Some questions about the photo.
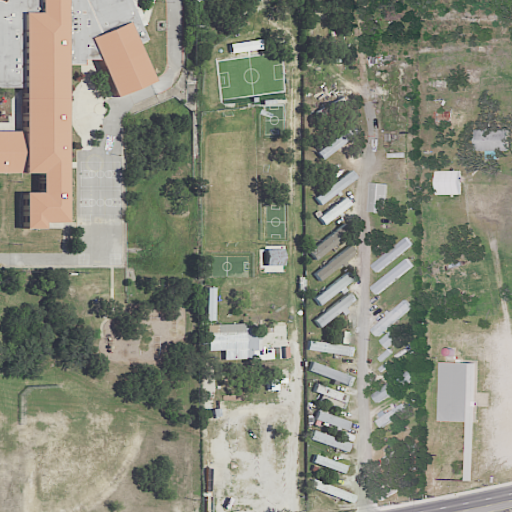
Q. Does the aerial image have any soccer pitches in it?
Yes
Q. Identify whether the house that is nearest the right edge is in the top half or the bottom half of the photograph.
top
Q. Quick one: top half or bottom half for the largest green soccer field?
top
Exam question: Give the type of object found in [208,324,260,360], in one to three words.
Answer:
building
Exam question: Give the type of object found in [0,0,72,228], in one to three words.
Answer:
building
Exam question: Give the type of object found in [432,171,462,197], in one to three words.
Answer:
house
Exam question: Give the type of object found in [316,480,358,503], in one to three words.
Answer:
house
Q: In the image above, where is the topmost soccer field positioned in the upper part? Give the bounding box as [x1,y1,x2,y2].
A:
[216,52,287,104]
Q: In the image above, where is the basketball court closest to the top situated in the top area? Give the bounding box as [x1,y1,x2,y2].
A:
[80,162,121,188]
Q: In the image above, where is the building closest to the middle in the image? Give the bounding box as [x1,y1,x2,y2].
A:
[260,246,288,272]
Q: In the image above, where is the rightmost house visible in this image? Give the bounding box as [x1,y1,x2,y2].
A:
[472,130,508,152]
